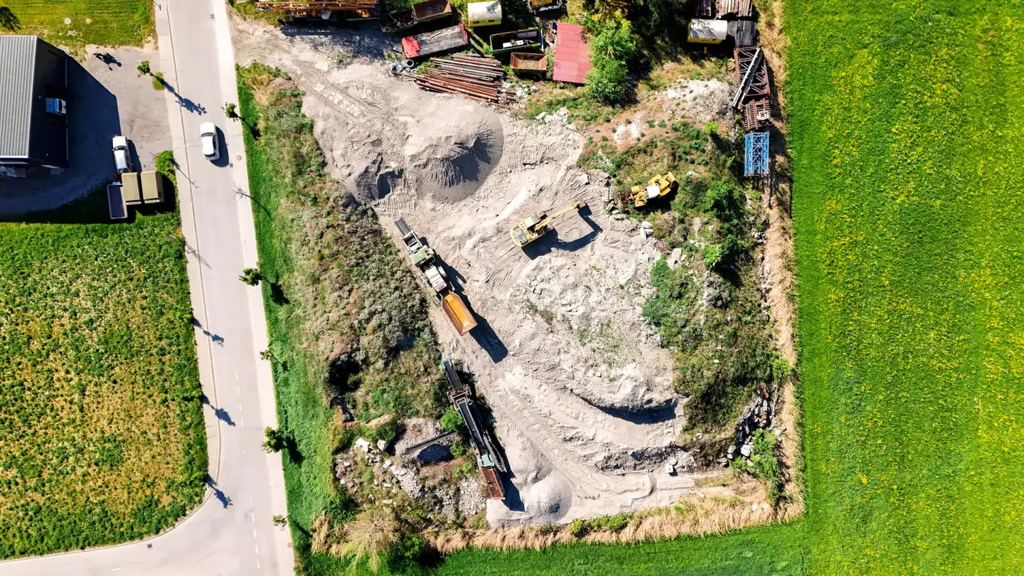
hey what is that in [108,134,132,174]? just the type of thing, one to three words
car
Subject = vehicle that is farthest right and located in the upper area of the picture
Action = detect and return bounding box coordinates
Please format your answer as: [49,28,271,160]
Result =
[619,171,681,214]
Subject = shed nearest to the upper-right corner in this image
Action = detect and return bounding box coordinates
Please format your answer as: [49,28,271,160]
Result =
[687,22,726,46]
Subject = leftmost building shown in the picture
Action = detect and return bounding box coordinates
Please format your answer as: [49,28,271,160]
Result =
[0,31,71,167]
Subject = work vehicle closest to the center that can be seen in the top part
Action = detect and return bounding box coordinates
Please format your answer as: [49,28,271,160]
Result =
[506,198,582,250]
